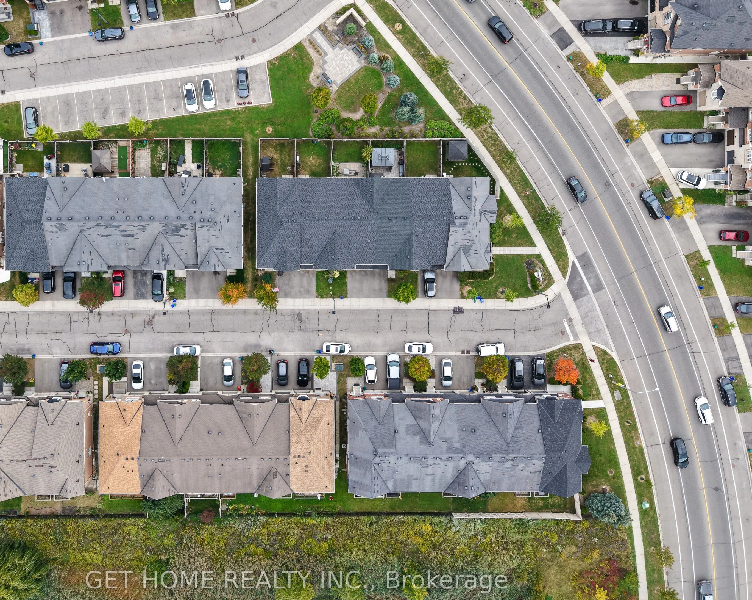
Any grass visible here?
Yes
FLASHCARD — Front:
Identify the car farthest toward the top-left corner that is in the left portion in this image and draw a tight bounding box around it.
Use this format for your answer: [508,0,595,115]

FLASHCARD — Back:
[4,41,35,57]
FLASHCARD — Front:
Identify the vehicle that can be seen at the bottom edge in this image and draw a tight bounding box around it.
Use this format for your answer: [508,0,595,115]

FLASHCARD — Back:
[696,580,715,600]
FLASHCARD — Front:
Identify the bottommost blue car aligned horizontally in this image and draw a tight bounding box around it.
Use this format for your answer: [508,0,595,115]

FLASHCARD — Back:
[90,341,122,357]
